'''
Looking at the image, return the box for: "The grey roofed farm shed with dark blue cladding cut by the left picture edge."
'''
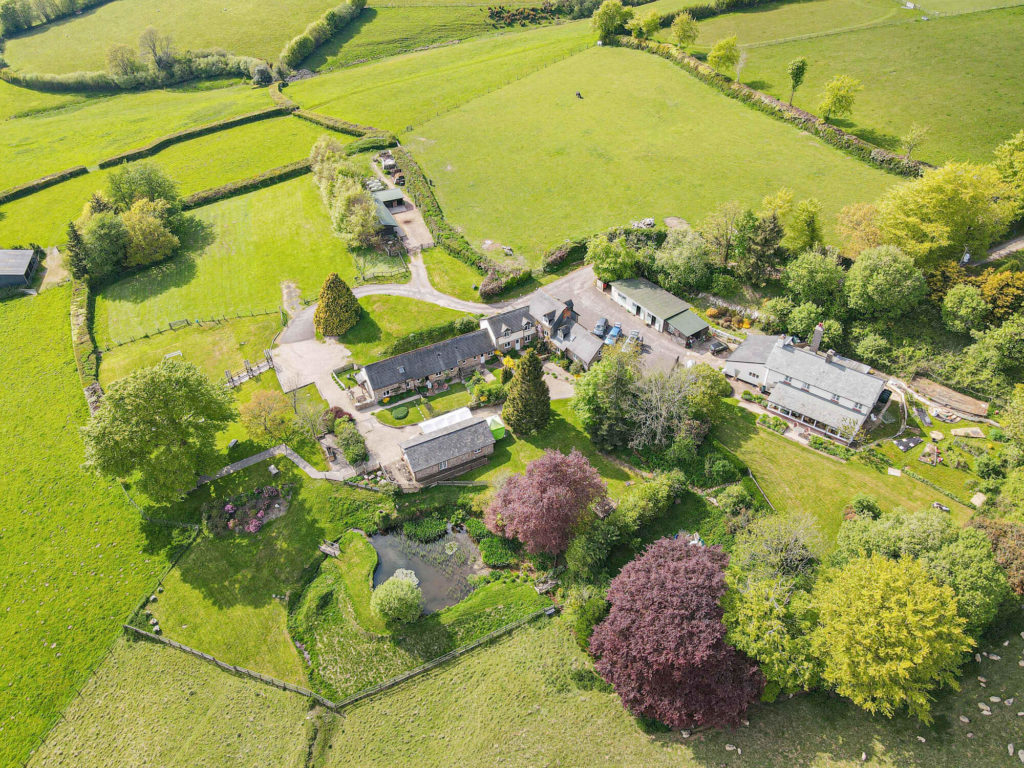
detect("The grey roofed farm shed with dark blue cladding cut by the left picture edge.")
[0,251,53,291]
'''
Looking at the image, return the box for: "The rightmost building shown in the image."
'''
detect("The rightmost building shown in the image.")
[726,329,885,444]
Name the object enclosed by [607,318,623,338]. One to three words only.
car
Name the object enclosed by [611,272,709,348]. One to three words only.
shed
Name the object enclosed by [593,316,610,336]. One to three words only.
car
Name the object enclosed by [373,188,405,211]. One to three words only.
shed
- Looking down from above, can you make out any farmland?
Yes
